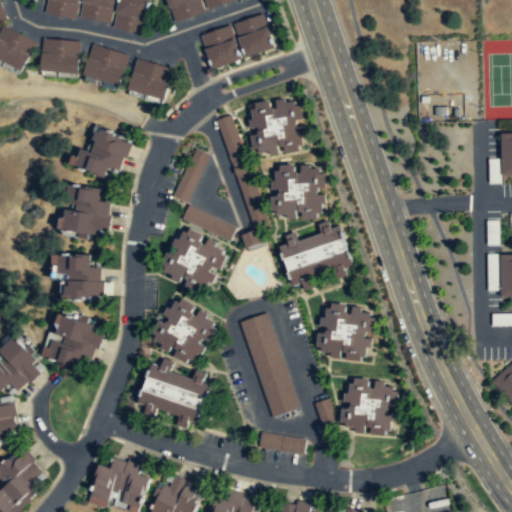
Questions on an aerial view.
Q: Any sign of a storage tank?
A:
No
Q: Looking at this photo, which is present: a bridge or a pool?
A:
pool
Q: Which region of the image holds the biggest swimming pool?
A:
center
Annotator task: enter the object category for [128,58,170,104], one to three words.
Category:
house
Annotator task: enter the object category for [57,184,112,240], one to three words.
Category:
house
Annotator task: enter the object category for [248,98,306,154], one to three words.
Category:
building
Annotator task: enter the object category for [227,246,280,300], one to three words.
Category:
swimming pool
